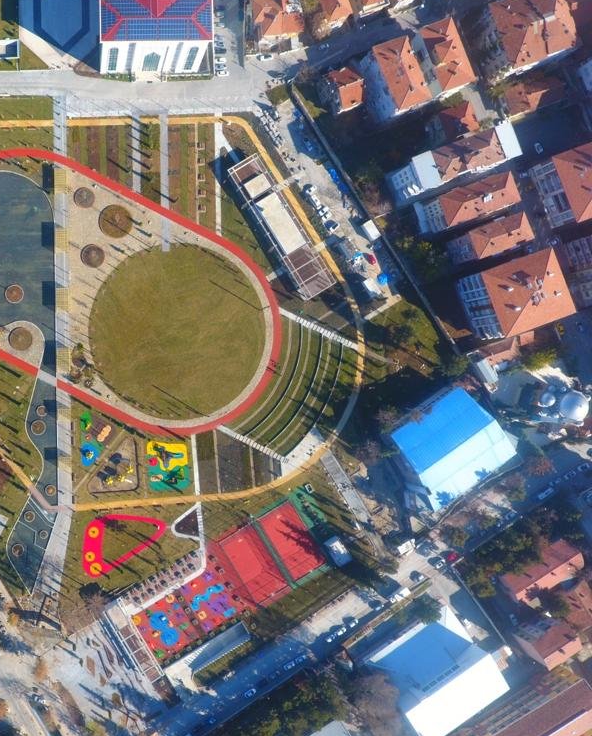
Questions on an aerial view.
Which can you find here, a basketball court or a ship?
basketball court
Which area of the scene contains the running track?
left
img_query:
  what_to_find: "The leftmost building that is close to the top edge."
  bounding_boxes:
[99,0,213,81]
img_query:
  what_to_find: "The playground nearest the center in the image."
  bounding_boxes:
[146,441,190,492]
